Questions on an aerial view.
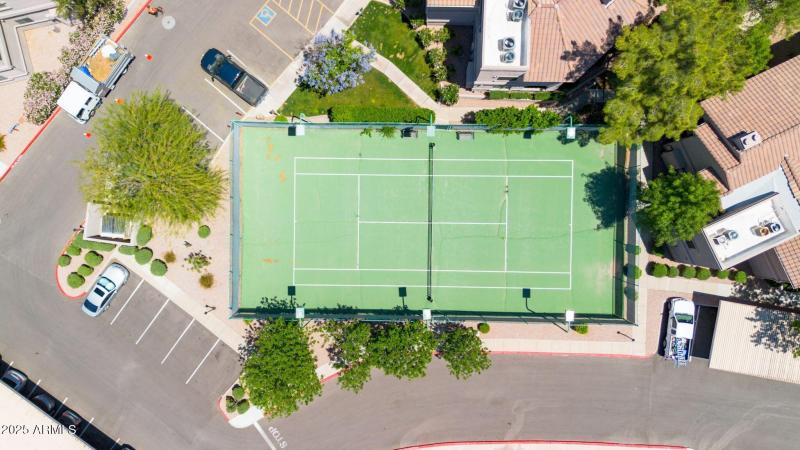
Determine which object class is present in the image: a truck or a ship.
truck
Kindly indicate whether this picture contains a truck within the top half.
Yes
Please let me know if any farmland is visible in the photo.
No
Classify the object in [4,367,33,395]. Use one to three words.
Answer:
car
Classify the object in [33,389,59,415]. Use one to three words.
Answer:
car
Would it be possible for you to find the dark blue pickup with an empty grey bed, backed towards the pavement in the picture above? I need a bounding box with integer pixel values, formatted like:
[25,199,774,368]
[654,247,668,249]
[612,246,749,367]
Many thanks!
[201,48,272,110]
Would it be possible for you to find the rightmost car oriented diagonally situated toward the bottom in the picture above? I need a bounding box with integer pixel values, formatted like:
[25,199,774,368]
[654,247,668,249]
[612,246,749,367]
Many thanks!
[84,262,131,316]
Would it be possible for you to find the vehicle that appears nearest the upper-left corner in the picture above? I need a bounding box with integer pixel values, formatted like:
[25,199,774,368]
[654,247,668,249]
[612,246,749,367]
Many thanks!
[50,36,131,124]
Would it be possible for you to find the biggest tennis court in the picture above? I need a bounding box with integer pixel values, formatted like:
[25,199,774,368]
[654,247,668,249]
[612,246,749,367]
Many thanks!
[241,128,624,317]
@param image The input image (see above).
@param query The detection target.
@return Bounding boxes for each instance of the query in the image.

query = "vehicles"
[84,262,131,316]
[60,409,87,435]
[4,367,33,395]
[33,389,59,415]
[50,36,131,124]
[201,48,272,110]
[662,296,697,362]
